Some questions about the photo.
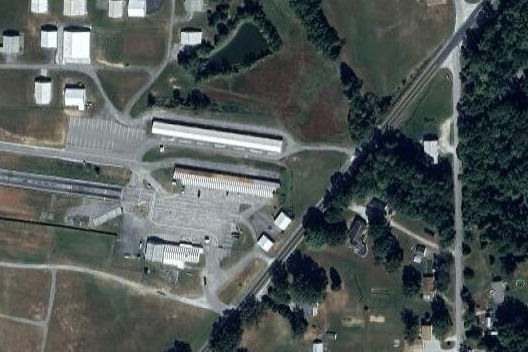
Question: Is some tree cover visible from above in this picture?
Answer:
Yes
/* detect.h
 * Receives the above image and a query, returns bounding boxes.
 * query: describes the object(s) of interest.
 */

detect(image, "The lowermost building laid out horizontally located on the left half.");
[144,244,202,270]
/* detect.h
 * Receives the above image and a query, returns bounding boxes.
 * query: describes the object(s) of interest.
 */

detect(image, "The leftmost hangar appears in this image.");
[0,36,23,54]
